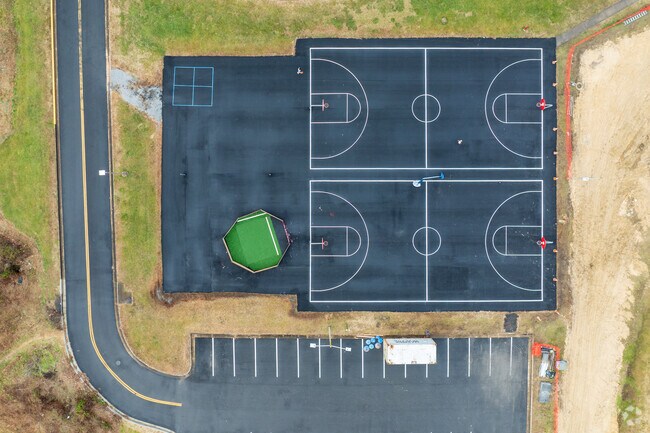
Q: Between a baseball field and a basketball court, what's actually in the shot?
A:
basketball court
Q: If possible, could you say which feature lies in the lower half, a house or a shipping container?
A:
shipping container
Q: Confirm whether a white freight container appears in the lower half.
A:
Yes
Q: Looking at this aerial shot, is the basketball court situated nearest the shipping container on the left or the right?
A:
right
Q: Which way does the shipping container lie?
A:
from side to side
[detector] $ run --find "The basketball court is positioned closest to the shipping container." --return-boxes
[310,180,543,302]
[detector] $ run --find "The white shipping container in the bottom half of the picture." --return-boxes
[384,337,437,364]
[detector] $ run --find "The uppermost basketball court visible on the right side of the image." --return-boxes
[310,48,543,169]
